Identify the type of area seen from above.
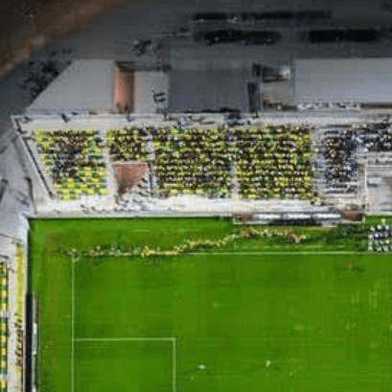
sports ground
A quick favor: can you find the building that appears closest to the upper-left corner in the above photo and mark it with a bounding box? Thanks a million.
[29,59,118,115]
